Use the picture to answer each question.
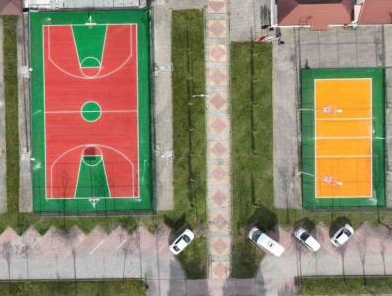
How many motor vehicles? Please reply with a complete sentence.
The count of motor vehicles comes to 4.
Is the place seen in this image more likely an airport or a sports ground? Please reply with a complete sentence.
The picture captures a sports ground.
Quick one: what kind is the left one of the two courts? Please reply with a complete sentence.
The left one of the two courts appears to be a basketball court.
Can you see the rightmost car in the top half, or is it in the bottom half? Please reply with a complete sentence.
The rightmost car is in the bottom half of the image.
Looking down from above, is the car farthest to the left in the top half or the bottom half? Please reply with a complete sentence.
The car farthest to the left is in the bottom half of the image.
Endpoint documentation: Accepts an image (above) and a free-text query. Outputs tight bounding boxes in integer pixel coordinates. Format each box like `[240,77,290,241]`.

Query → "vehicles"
[248,226,287,258]
[293,226,322,252]
[167,229,194,256]
[329,222,354,247]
